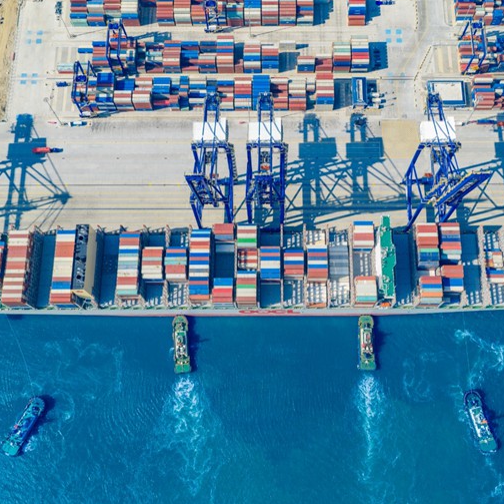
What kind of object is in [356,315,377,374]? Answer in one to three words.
boat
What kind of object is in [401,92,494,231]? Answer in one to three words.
container crane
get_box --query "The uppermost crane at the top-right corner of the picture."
[460,20,491,74]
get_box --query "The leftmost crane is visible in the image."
[69,61,96,116]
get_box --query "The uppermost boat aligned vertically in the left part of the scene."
[172,316,192,374]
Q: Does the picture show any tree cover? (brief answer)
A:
No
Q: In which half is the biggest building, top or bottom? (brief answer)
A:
top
